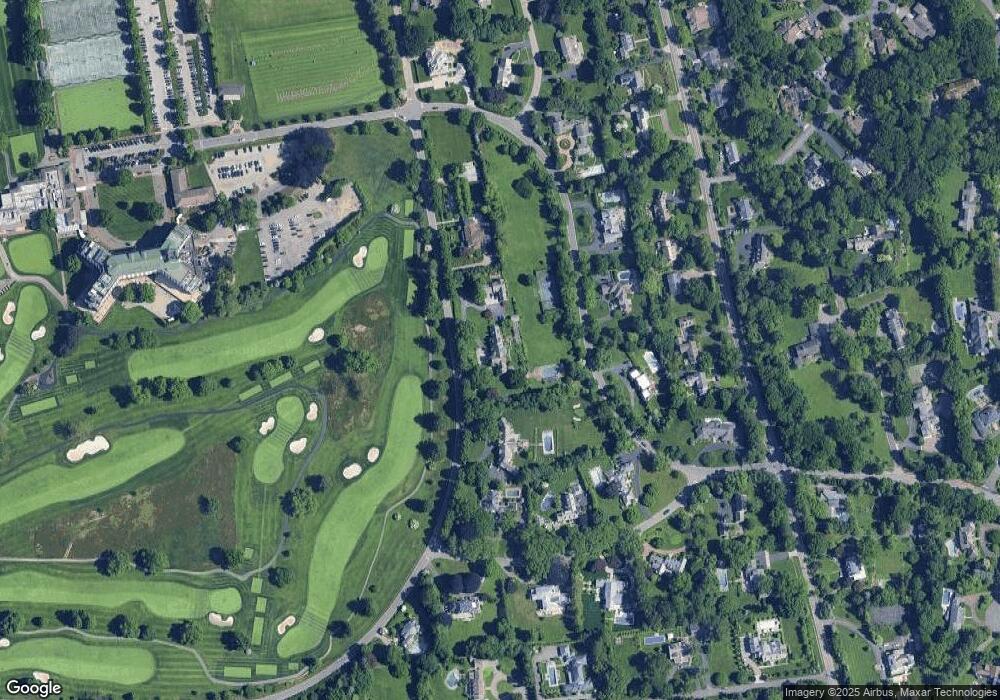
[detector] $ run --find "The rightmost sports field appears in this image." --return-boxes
[242,18,386,120]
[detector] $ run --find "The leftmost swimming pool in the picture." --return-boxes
[445,669,460,689]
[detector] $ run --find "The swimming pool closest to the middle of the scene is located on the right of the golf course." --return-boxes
[541,430,555,454]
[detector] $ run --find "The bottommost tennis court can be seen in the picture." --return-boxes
[870,604,904,624]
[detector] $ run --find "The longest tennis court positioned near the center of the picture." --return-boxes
[539,270,555,308]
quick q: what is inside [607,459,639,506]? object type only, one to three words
house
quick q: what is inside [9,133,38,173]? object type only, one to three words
sports field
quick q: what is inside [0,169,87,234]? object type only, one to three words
building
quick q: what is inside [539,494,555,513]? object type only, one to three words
swimming pool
